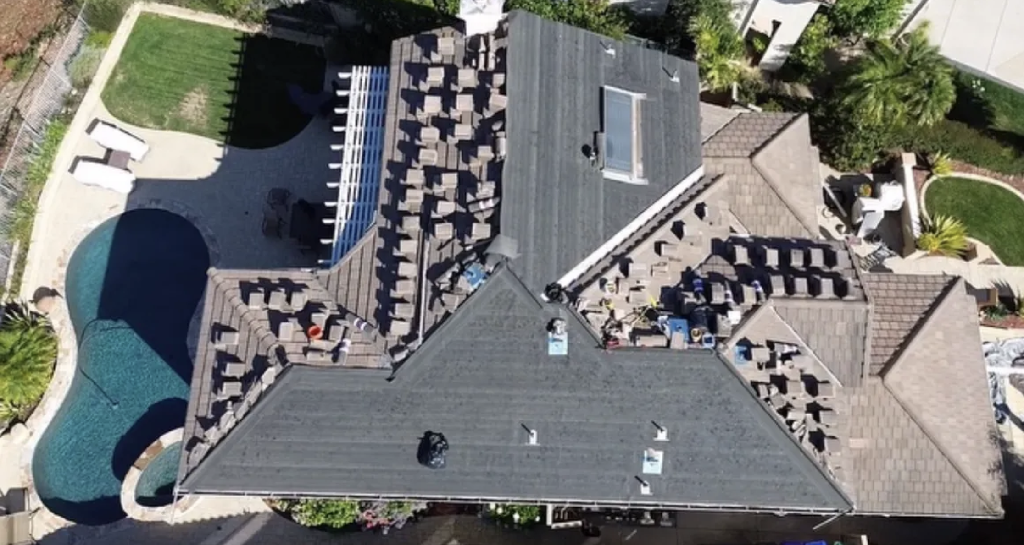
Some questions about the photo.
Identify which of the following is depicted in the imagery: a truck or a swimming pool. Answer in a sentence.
Of the two, only a swimming pool appears.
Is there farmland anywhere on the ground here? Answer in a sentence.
No, farmland can't be seen anywhere here.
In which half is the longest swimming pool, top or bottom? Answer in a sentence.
The longest swimming pool sits in the bottom half of the picture.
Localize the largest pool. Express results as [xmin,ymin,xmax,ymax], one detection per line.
[34,210,209,525]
